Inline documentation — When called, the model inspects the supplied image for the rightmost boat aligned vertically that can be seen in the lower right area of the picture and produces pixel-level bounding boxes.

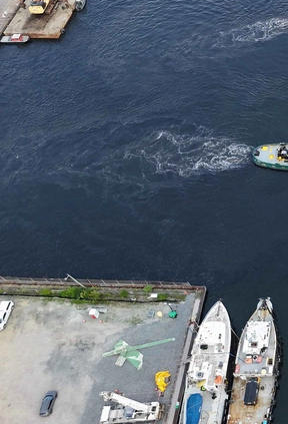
[215,297,277,424]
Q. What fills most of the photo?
water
